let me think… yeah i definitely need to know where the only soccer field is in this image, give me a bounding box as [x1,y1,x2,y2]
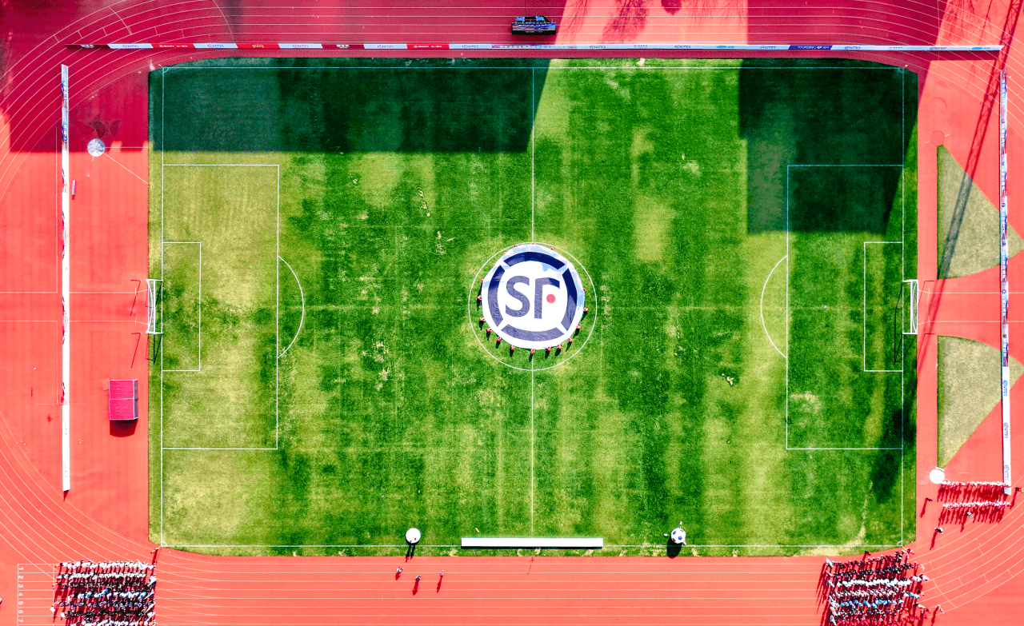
[148,57,919,557]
